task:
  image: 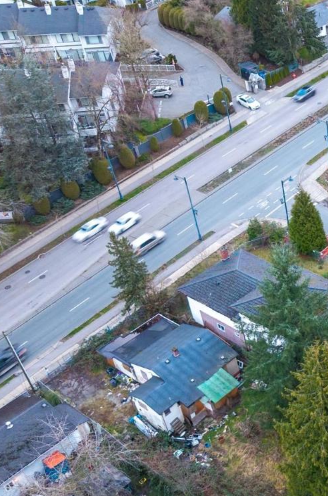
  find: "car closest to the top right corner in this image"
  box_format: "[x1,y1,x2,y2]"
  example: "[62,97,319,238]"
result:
[293,81,317,100]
